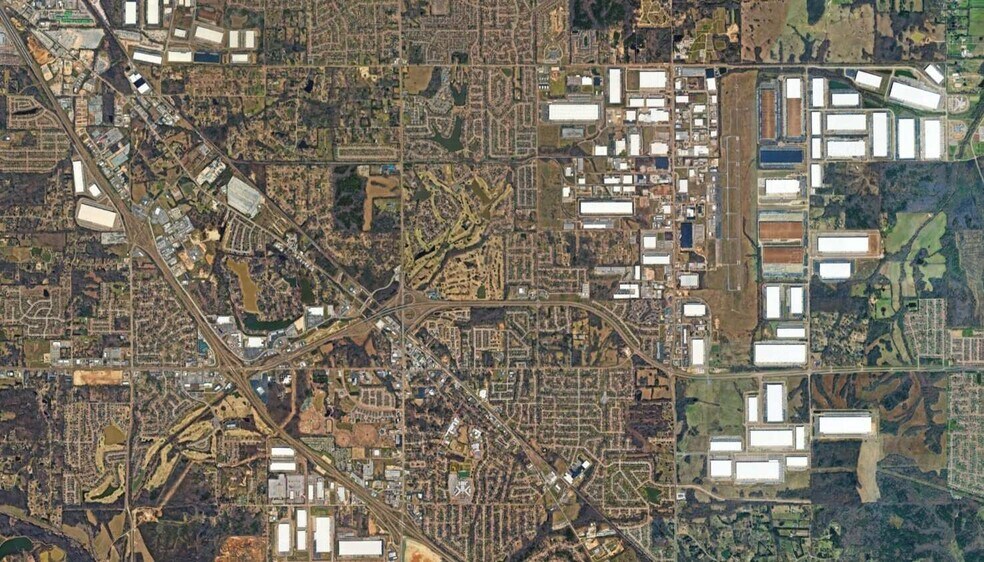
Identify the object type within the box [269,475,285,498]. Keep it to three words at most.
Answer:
building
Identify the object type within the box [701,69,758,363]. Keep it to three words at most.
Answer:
airport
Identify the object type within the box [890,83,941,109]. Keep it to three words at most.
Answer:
building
